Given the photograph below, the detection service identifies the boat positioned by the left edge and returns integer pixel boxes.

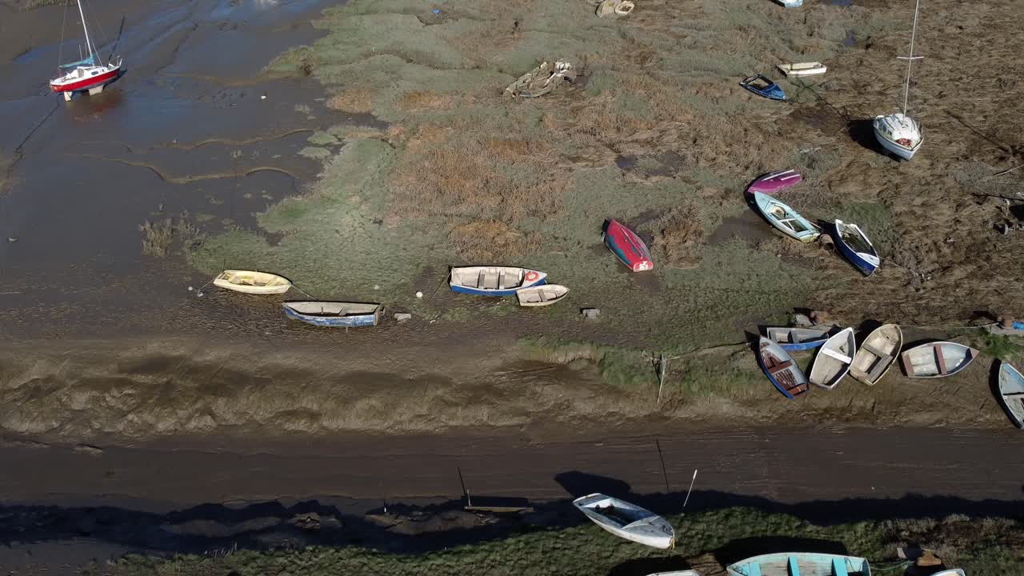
[45,0,121,99]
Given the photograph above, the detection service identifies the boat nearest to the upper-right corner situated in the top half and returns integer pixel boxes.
[876,0,931,159]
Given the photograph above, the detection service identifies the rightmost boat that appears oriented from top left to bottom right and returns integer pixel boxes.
[836,223,882,269]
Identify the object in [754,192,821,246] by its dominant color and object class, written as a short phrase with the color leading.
white boat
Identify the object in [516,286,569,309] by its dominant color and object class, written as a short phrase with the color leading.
white boat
